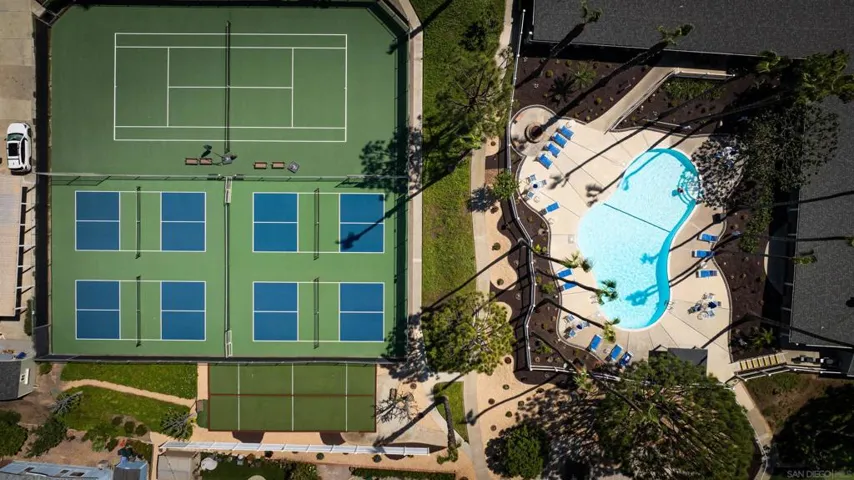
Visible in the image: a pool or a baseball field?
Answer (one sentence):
Of the two, only a pool appears.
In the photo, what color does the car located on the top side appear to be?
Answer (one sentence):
The color of the car located on the top side is white.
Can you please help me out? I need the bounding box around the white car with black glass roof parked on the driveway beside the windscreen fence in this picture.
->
[4,124,31,172]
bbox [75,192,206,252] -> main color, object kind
blue sports court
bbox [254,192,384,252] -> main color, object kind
blue sports court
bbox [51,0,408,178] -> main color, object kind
green tennis court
